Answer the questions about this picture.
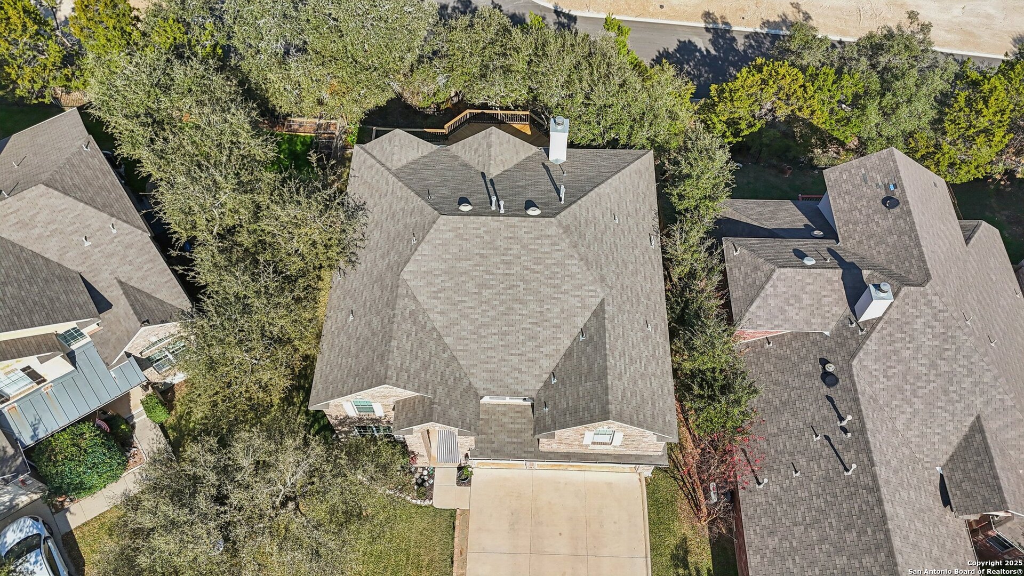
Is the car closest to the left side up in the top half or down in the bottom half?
bottom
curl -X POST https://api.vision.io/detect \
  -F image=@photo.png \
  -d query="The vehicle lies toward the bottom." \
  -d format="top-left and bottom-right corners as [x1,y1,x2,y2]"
[5,514,79,576]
